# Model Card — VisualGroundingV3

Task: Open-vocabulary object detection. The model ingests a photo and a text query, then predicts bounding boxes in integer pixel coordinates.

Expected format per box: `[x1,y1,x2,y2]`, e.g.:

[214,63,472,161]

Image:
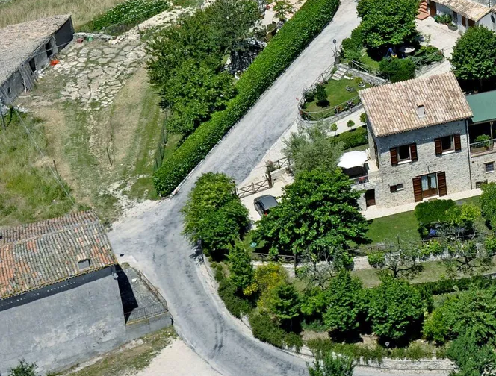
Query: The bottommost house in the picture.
[0,209,125,371]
